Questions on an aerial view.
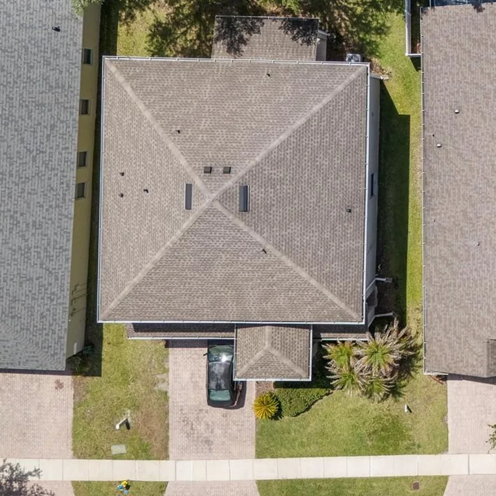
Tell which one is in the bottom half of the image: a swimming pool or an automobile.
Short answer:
automobile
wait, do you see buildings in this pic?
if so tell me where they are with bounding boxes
[420,2,496,383]
[0,0,104,372]
[97,14,409,379]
